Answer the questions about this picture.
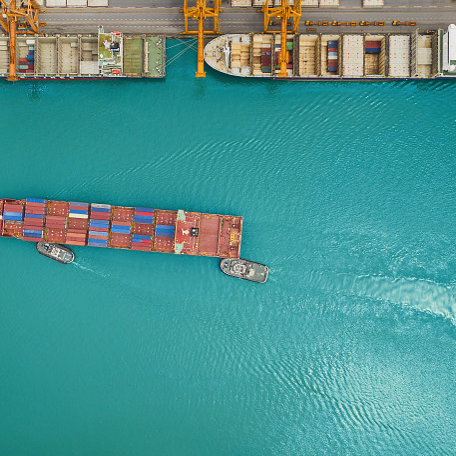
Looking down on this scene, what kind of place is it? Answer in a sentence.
This looks like a port.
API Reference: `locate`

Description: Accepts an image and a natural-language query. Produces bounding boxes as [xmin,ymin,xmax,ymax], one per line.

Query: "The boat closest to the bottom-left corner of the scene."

[35,242,75,264]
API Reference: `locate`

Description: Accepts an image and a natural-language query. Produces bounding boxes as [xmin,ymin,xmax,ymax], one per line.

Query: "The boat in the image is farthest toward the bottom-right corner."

[219,258,269,283]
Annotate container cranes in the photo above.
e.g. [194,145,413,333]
[0,0,45,80]
[175,0,223,80]
[253,0,305,80]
